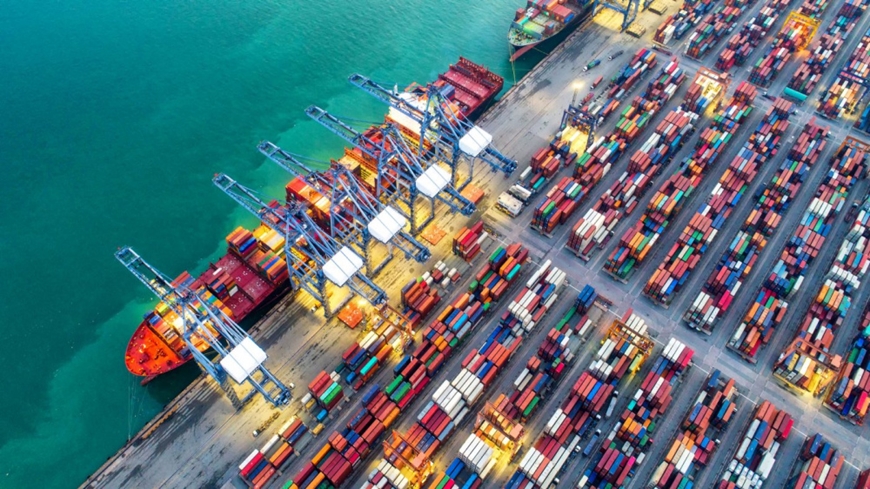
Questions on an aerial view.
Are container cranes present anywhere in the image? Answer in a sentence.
Yes, a container crane appears in the view.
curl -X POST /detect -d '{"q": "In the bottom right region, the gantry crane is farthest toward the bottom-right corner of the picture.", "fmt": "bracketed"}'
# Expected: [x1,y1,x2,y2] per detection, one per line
[771,340,845,398]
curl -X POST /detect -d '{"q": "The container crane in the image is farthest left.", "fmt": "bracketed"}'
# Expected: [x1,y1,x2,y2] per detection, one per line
[116,244,294,412]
